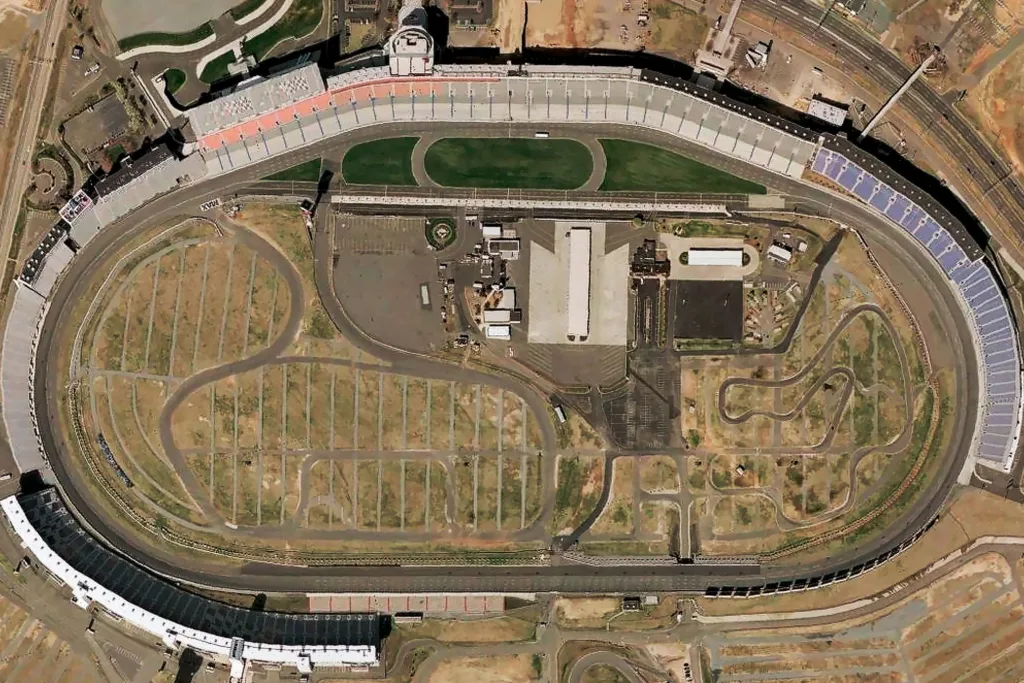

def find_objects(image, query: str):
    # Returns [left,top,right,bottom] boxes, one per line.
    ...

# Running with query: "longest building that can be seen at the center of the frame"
[566,227,590,341]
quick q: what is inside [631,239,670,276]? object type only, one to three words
building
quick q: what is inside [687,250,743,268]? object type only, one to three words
building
